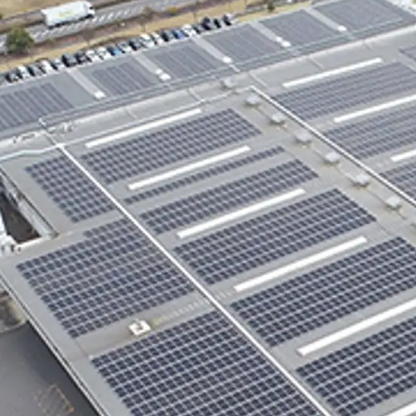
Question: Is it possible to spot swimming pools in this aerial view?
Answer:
No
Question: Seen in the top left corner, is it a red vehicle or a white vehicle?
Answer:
white vehicle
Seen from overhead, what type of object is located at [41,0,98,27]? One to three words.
truck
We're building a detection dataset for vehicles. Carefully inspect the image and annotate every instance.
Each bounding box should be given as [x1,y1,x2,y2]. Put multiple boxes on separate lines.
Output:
[198,15,214,29]
[74,52,89,63]
[149,29,163,42]
[189,20,204,32]
[138,30,155,46]
[219,12,234,25]
[61,50,77,66]
[39,57,54,71]
[27,61,43,75]
[209,14,224,27]
[169,25,184,36]
[83,45,100,60]
[127,35,143,48]
[116,40,131,52]
[15,62,32,79]
[41,0,98,27]
[50,55,64,68]
[2,66,20,82]
[159,28,175,40]
[178,20,195,35]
